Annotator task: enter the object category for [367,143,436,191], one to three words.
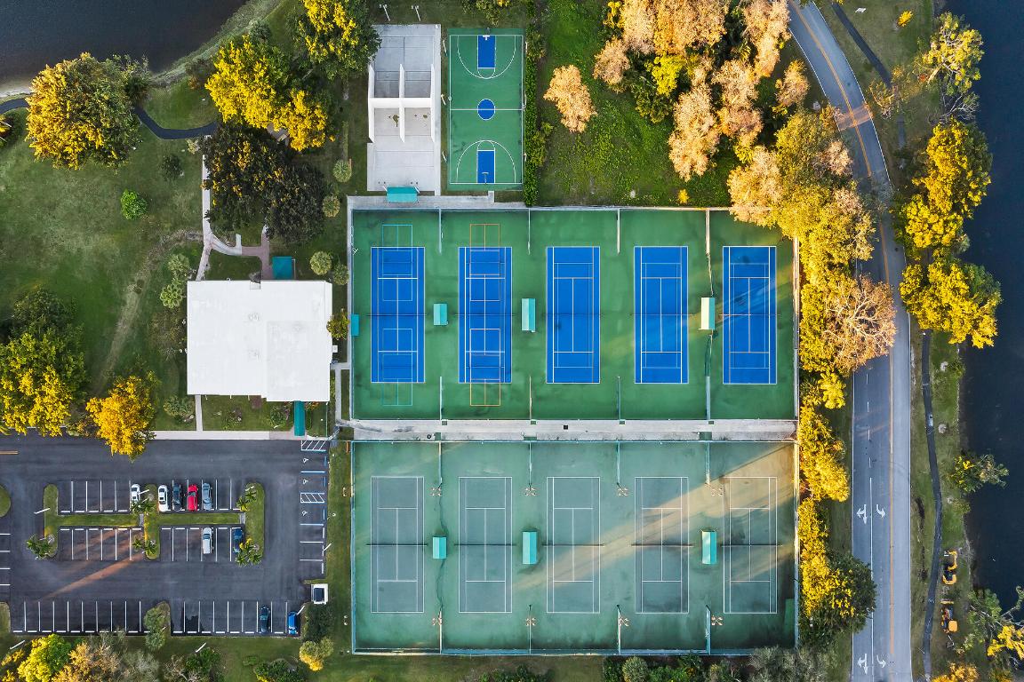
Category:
sports court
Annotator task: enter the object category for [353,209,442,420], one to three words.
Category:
tennis court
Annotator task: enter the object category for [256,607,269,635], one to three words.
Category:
vehicle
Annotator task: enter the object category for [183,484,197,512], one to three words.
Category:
car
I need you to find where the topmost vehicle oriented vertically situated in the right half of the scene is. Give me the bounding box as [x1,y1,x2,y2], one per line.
[943,551,959,587]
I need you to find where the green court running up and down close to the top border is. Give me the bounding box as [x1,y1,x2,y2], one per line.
[448,28,524,191]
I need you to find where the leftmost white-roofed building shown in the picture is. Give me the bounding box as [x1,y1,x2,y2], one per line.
[187,281,337,402]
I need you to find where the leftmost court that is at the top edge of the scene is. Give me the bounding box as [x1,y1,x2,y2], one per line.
[372,24,441,143]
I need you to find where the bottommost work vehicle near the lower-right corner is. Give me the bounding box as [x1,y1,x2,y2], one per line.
[941,602,960,647]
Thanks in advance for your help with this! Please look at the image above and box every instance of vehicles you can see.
[126,483,140,510]
[285,611,298,639]
[943,551,959,587]
[198,528,212,557]
[198,483,211,511]
[154,484,168,512]
[941,602,960,647]
[256,607,269,635]
[183,484,197,512]
[229,530,242,554]
[168,483,182,511]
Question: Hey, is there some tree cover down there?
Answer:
Yes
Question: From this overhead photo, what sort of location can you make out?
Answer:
sports ground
